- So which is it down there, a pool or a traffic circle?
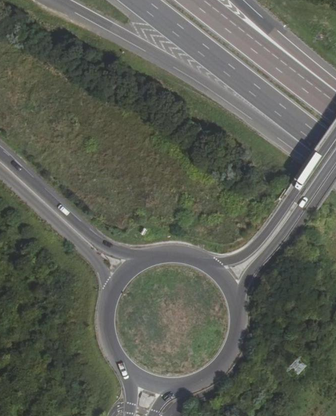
traffic circle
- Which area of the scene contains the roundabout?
bottom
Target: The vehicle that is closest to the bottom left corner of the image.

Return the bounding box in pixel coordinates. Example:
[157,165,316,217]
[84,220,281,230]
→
[115,360,127,378]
